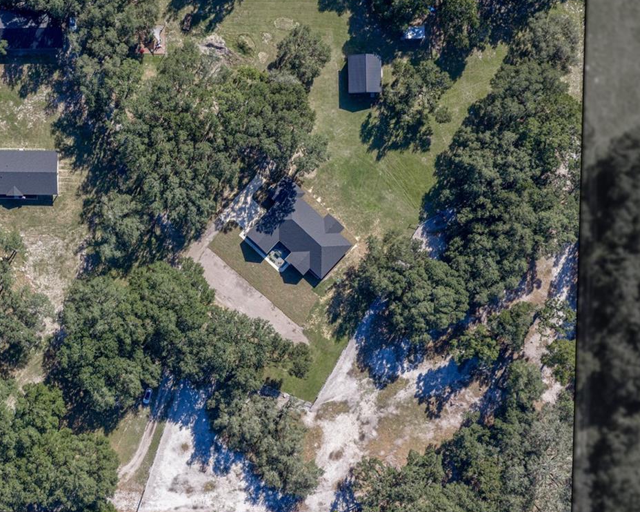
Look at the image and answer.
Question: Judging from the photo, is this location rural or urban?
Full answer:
This place is rural.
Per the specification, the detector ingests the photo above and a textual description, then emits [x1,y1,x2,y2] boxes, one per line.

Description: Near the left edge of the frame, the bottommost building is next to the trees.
[0,152,59,199]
